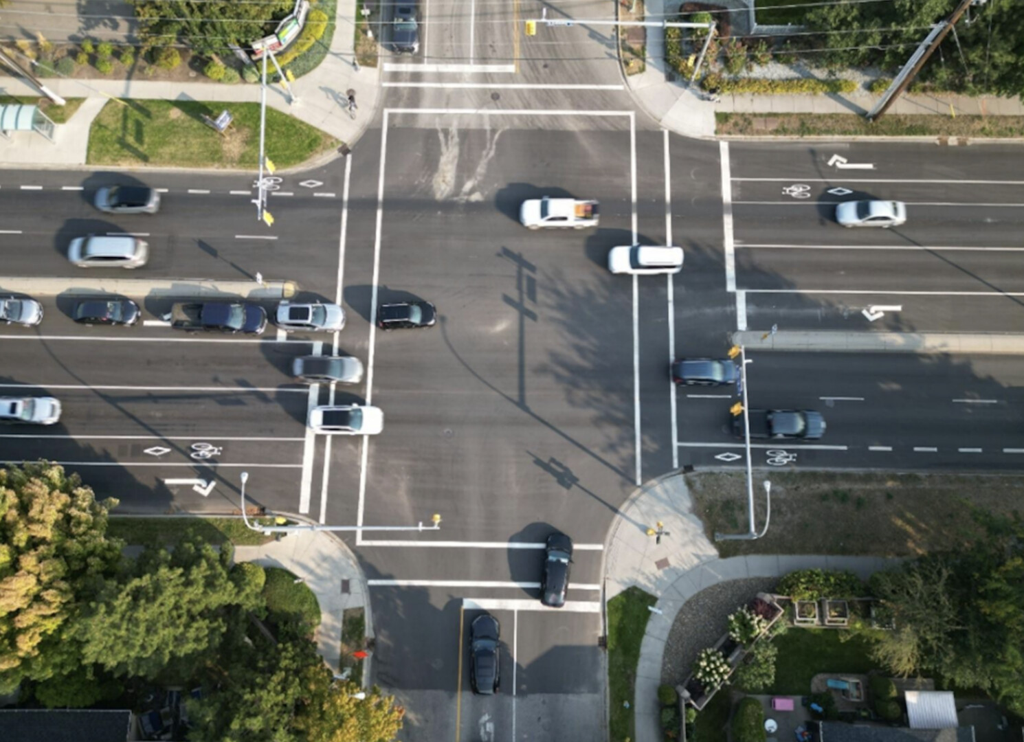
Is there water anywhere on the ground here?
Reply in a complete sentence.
No, no water is visible.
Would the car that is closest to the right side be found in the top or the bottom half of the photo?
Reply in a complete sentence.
You can find the car that is closest to the right side in the top half.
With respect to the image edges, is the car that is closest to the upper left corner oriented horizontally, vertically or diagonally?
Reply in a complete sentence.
The car that is closest to the upper left corner is laid out horizontally.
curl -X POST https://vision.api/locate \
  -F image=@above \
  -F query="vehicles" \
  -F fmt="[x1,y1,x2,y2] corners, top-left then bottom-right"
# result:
[727,404,828,442]
[274,298,347,334]
[466,614,505,695]
[390,0,422,57]
[70,295,145,329]
[307,400,385,437]
[66,231,153,270]
[833,195,908,231]
[538,533,577,609]
[607,240,685,278]
[0,295,47,329]
[166,298,270,335]
[93,181,165,216]
[670,352,741,388]
[377,297,437,332]
[0,391,66,427]
[520,193,600,232]
[292,351,364,386]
